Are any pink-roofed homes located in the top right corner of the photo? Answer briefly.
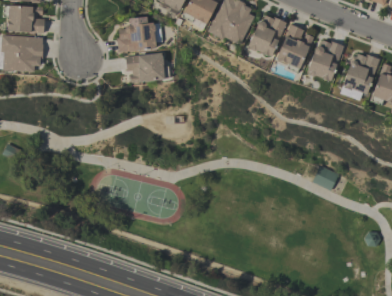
No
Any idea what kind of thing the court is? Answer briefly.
basketball court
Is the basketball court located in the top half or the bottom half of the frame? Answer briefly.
bottom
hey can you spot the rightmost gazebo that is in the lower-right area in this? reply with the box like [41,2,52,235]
[364,230,383,248]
